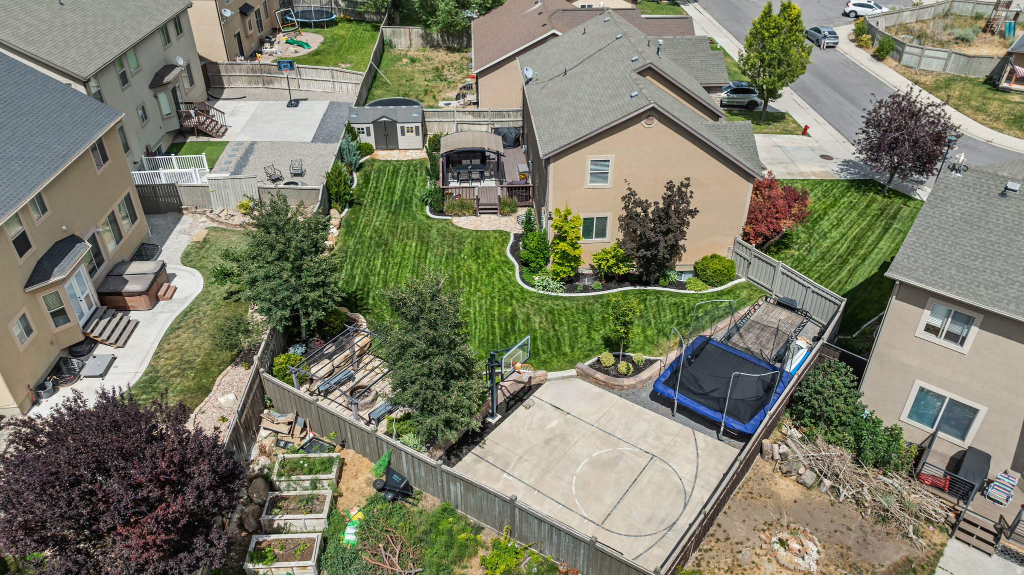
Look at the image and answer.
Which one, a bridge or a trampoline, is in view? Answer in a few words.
trampoline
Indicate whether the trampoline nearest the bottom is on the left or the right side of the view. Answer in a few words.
right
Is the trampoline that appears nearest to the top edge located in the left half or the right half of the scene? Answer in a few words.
left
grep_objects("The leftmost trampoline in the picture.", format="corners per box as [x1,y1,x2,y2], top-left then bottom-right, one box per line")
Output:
[288,0,334,27]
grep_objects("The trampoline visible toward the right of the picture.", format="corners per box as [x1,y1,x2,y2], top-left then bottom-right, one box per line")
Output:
[654,306,795,441]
